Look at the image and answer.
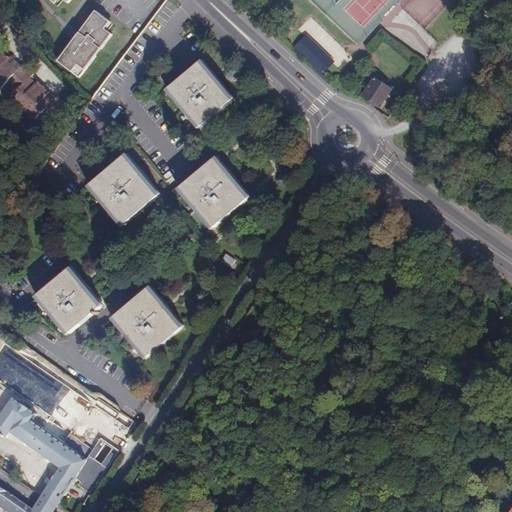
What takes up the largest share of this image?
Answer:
trees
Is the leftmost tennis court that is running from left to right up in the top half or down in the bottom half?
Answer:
top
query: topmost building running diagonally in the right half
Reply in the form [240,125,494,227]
[294,32,334,73]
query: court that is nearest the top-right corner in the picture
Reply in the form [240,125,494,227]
[402,0,448,27]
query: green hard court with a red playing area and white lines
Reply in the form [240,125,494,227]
[309,0,404,42]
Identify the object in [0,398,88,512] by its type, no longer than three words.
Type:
building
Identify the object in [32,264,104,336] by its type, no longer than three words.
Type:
building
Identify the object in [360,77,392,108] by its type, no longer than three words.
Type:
house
